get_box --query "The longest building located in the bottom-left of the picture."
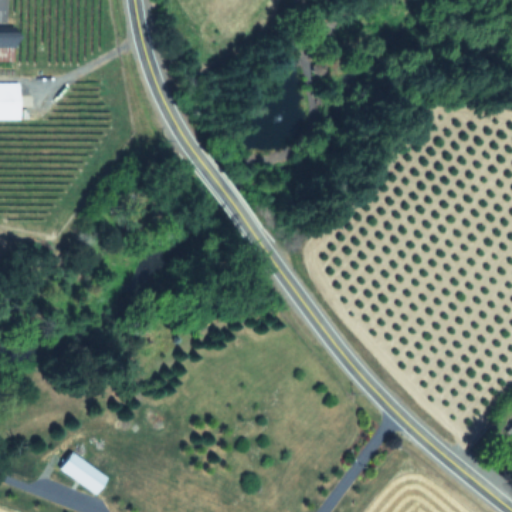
[60,452,108,496]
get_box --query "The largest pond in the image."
[240,80,306,149]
